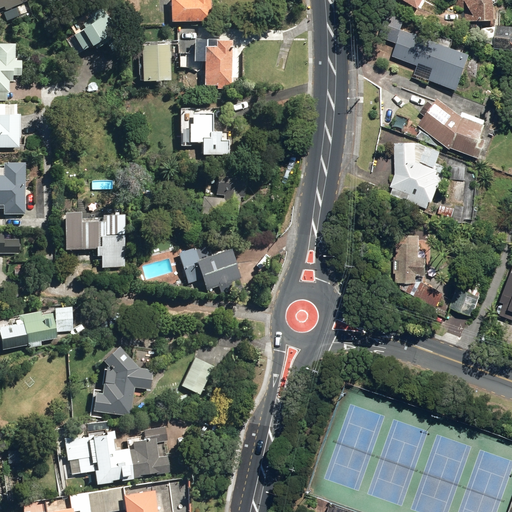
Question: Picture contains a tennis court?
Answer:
Yes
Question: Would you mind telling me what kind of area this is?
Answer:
residential area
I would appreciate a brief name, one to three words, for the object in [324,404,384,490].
tennis court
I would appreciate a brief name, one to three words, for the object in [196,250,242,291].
house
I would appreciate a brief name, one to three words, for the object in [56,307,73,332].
building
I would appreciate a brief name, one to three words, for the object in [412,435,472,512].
tennis court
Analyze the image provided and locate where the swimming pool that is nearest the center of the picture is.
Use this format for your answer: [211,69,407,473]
[142,258,178,281]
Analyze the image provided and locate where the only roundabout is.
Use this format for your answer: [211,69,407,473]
[286,299,319,332]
